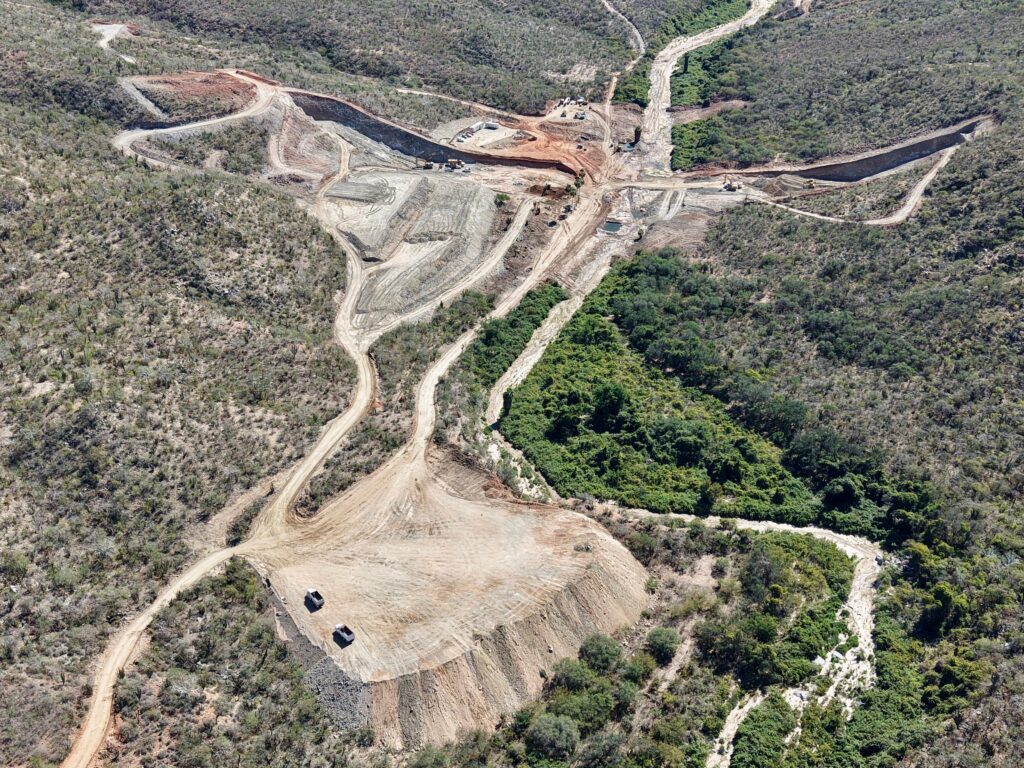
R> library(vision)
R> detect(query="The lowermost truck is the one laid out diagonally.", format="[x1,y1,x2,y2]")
[331,624,352,647]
